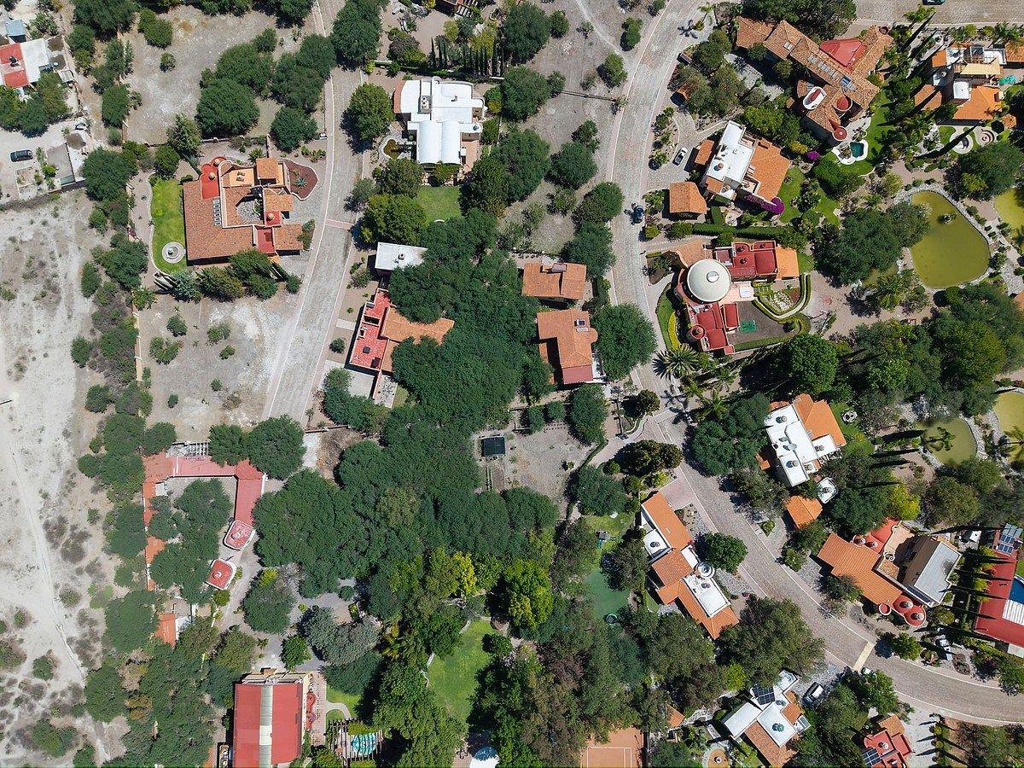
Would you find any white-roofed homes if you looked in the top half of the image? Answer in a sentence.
Yes, there is a white-roofed home in the top half of the image.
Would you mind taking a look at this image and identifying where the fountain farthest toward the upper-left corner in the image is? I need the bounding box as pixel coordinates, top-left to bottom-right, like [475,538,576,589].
[162,241,184,262]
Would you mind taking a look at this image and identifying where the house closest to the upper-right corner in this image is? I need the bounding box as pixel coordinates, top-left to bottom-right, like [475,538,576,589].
[911,40,1024,126]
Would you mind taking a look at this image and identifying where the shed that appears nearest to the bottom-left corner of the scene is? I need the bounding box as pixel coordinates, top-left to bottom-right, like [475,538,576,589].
[155,610,192,644]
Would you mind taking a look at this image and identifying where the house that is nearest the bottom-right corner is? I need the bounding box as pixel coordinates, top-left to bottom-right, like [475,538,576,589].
[853,715,912,768]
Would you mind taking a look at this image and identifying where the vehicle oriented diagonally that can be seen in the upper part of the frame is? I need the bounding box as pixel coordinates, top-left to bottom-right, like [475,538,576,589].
[672,145,689,167]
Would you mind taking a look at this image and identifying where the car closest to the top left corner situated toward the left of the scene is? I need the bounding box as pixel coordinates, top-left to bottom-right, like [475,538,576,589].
[9,149,34,162]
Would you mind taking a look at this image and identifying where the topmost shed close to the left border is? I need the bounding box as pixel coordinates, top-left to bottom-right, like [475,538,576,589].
[6,20,31,42]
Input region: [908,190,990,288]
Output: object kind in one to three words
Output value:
pond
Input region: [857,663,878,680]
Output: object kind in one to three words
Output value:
car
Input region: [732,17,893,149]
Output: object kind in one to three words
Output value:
house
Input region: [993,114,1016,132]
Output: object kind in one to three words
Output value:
gazebo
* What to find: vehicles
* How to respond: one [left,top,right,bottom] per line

[802,680,825,706]
[924,0,945,6]
[936,634,952,660]
[633,203,644,224]
[672,145,689,167]
[9,149,34,162]
[857,663,878,680]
